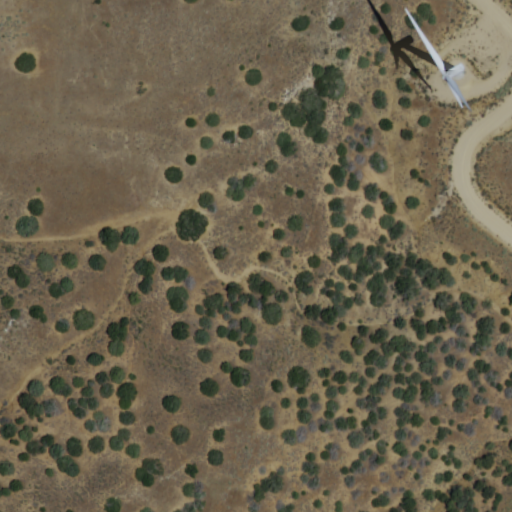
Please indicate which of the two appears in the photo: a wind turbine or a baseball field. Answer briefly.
wind turbine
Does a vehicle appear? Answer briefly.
No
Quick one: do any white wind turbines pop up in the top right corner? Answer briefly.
Yes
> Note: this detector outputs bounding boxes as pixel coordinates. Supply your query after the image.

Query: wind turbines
[404,9,468,110]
